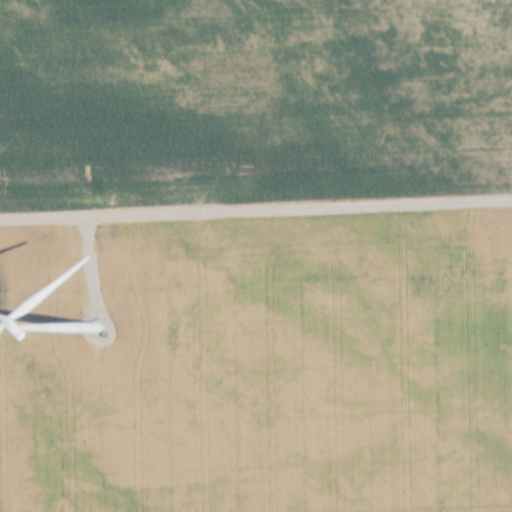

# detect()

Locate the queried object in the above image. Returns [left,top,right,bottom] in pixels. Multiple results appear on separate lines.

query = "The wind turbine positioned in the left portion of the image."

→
[0,258,104,340]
